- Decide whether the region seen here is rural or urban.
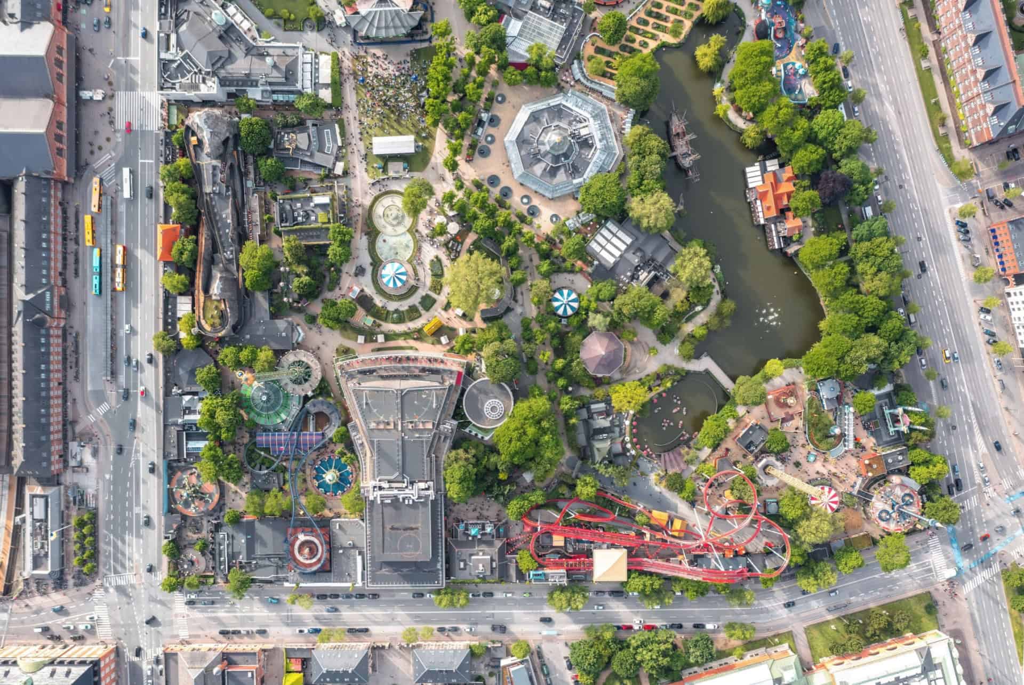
urban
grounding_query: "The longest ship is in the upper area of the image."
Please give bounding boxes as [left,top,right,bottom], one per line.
[670,95,701,170]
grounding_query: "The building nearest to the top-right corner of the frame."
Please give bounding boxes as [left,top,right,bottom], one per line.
[936,0,1024,149]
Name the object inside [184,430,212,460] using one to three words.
building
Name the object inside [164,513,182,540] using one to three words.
shed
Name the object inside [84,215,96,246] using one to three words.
vehicle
